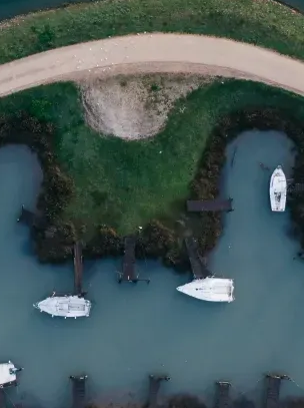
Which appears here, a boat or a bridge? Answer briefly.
boat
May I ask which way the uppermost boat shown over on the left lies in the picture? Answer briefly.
from side to side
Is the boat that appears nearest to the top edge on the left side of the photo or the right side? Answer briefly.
right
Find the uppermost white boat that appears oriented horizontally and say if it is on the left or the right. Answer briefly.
right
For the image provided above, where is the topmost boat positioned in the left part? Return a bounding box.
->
[33,295,92,319]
